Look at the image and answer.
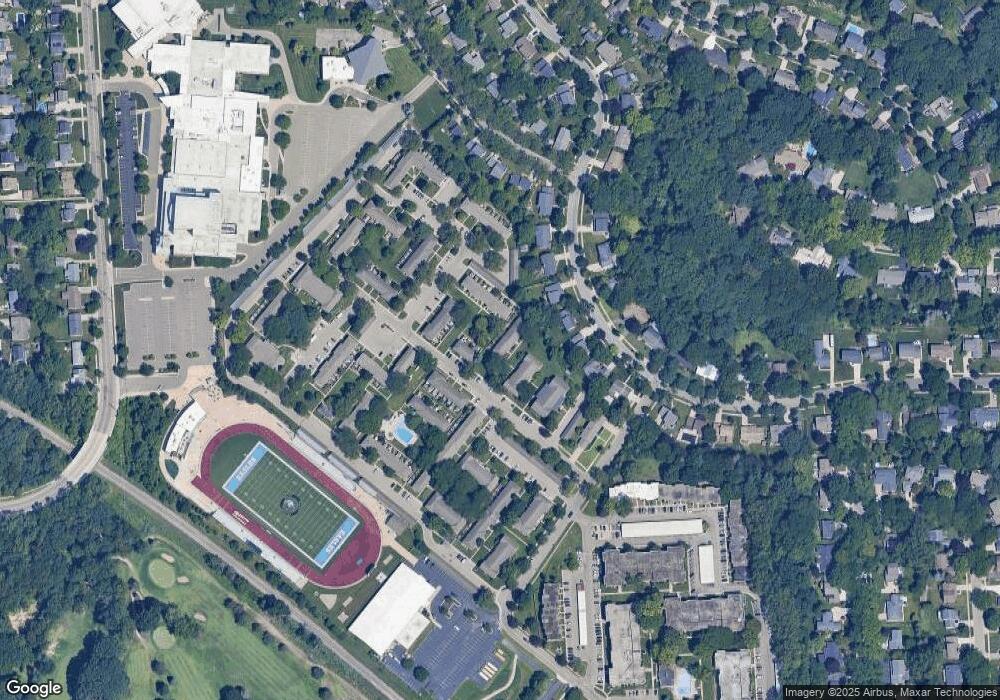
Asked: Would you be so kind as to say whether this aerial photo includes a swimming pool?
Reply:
Yes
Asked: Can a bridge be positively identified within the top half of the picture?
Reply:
No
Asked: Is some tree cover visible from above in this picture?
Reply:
Yes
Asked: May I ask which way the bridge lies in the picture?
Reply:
diagonally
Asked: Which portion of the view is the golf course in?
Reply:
bottom left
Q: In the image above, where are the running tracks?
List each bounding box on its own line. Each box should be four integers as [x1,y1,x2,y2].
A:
[189,423,383,588]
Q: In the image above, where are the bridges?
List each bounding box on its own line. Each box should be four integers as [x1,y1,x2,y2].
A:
[55,424,111,486]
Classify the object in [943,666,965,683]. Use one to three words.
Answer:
house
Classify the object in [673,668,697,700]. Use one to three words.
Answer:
swimming pool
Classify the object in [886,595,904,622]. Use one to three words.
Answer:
house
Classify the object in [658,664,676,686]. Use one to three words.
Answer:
building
